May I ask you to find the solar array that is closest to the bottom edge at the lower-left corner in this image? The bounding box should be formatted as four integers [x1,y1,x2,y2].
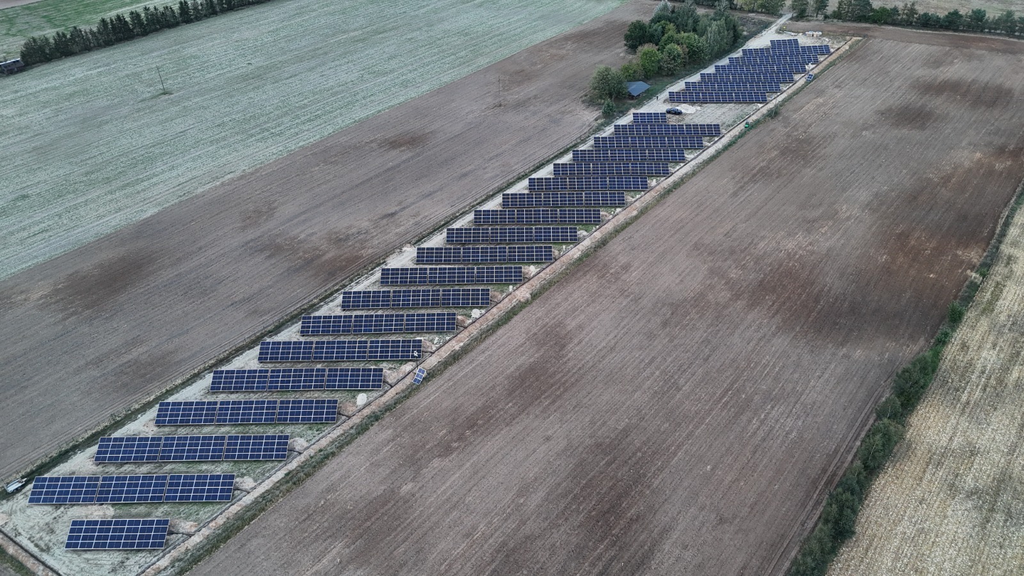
[65,519,169,549]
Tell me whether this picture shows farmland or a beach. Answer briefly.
farmland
